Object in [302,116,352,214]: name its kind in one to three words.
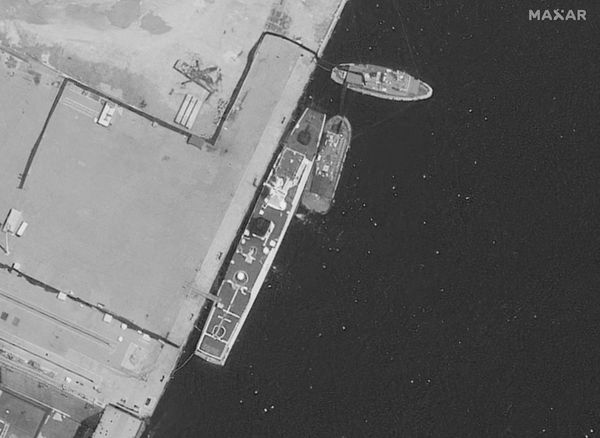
boat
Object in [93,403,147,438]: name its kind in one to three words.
building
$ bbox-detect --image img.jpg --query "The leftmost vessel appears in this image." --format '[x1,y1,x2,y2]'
[195,107,326,366]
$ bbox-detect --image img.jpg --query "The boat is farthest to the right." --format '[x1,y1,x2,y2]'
[331,64,434,103]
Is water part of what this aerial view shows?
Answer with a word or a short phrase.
Yes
